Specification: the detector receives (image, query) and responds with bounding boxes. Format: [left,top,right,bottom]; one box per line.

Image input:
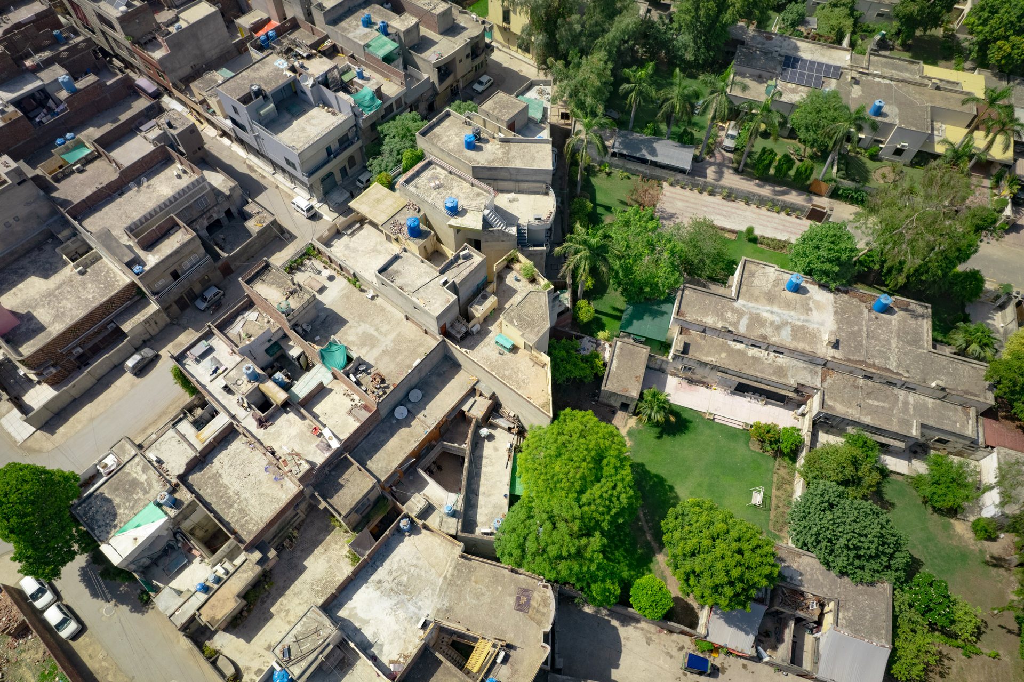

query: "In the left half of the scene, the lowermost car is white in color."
[43,603,83,642]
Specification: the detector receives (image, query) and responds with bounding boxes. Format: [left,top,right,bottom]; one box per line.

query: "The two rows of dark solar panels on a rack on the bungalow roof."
[778,56,841,92]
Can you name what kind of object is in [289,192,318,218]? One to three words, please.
vehicle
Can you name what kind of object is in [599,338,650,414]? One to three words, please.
house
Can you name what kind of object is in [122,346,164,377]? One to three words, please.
car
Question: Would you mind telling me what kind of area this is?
residential area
